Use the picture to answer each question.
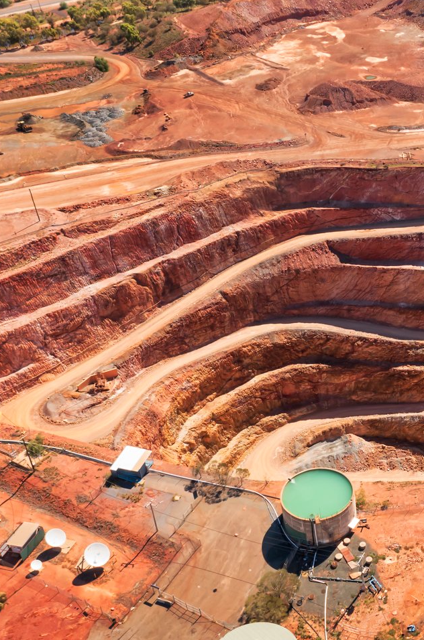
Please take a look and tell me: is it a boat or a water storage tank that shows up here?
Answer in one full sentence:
Of the two, only a water storage tank appears.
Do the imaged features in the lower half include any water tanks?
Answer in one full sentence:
Yes, a water tank is visible in the lower half.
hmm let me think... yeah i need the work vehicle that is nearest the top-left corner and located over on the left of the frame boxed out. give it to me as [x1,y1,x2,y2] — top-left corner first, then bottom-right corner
[13,120,37,134]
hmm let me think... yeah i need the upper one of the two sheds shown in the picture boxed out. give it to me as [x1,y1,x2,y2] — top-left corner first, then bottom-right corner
[111,447,152,483]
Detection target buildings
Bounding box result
[111,447,152,483]
[6,522,41,558]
